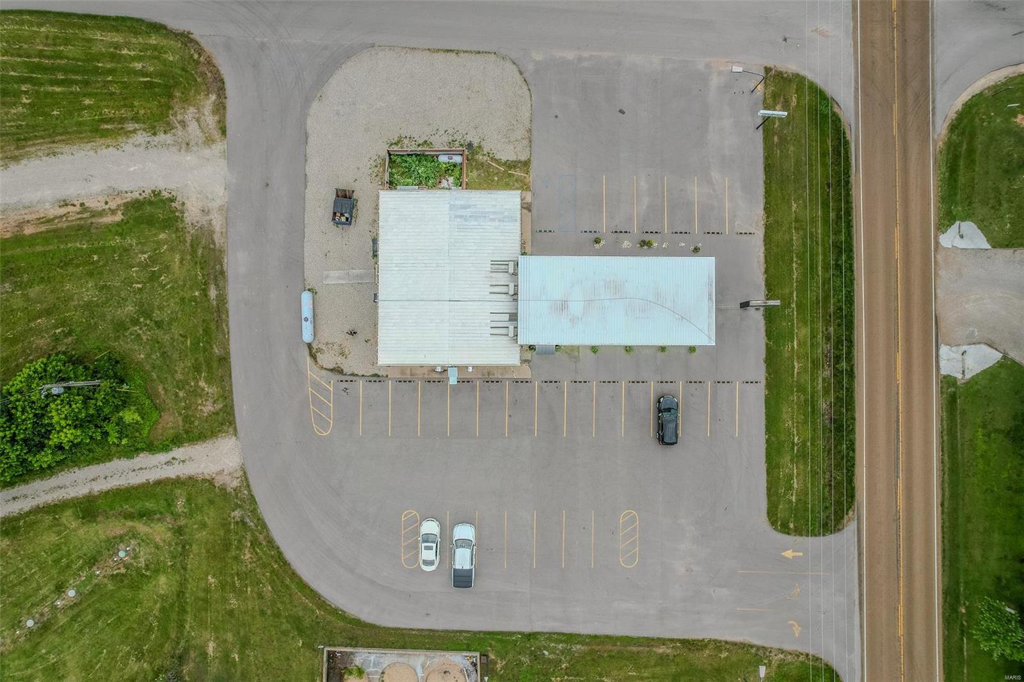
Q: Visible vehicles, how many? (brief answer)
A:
3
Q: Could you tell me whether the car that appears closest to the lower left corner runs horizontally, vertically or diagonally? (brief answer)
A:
vertically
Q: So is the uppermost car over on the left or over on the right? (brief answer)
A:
right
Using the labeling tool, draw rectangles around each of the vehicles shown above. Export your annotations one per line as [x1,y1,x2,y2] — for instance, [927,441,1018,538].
[658,395,681,446]
[450,525,476,591]
[418,520,440,572]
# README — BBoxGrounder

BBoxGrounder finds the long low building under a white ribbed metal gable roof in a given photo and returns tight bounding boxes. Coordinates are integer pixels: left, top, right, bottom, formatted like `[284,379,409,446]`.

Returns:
[376,187,522,366]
